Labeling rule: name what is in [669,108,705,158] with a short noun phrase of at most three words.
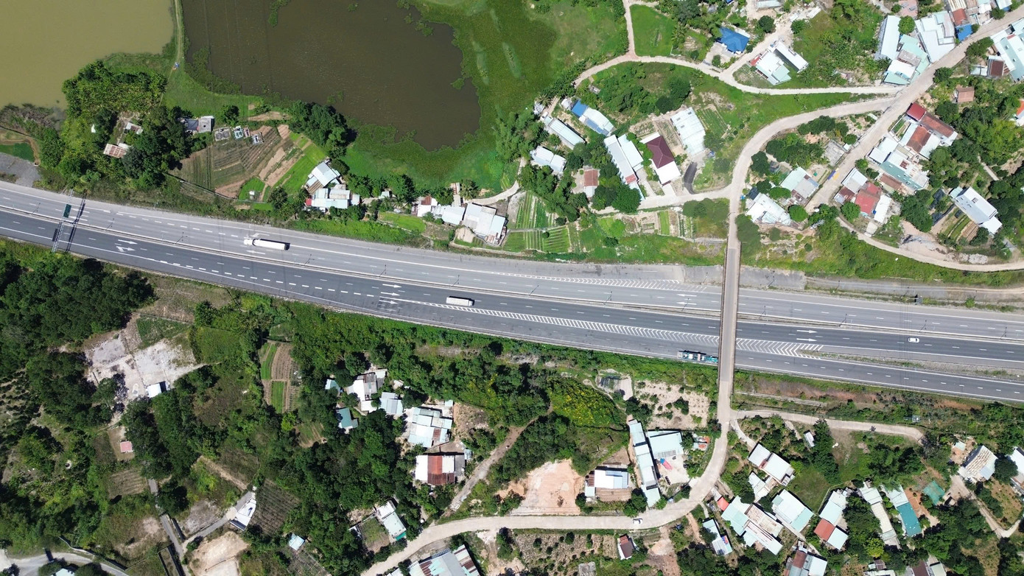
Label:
building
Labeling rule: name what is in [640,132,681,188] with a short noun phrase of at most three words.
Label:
house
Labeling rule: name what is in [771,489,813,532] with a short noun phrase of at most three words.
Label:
house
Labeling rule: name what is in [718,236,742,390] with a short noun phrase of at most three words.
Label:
bridge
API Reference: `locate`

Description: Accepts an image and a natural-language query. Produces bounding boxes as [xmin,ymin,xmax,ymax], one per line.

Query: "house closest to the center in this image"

[463,203,506,246]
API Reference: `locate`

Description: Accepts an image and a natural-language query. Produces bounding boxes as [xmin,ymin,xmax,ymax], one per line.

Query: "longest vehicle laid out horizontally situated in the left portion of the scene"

[244,239,287,252]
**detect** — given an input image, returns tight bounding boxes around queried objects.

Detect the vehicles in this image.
[907,337,919,343]
[244,239,287,252]
[678,352,718,363]
[632,518,643,524]
[659,458,673,471]
[446,297,473,308]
